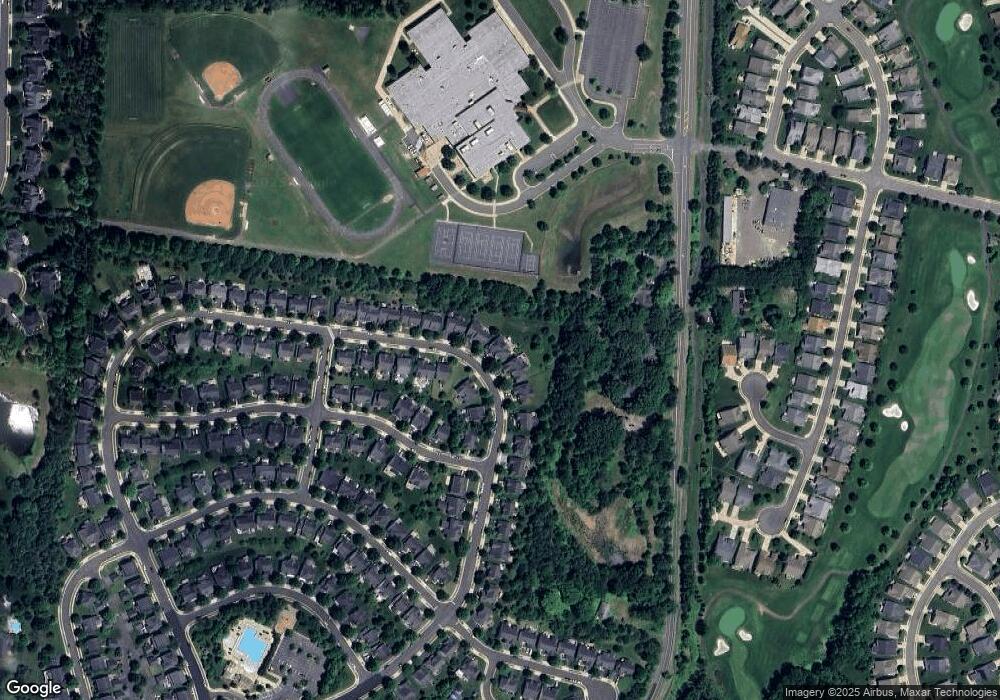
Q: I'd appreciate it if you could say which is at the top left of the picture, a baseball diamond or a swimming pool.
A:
baseball diamond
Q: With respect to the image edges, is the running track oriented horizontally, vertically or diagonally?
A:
diagonally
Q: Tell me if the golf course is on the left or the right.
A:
right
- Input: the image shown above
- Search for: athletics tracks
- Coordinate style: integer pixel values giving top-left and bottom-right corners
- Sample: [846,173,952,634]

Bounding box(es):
[258,66,405,240]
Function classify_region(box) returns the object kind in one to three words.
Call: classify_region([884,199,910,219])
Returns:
house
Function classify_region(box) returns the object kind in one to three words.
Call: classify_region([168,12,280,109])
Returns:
baseball field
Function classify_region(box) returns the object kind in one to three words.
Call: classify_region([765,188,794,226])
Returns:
building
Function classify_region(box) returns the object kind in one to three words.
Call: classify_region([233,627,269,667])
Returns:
swimming pool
